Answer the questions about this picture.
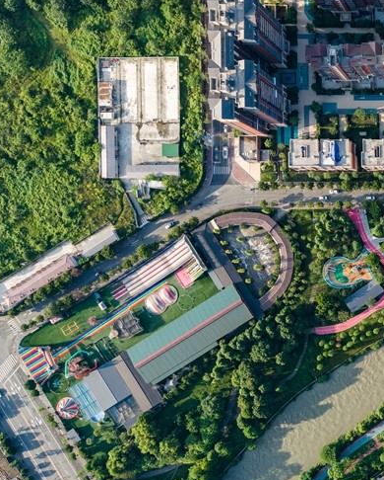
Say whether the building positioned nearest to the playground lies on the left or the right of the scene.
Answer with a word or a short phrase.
right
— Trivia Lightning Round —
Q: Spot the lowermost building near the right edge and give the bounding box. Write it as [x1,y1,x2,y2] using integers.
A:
[345,279,384,311]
